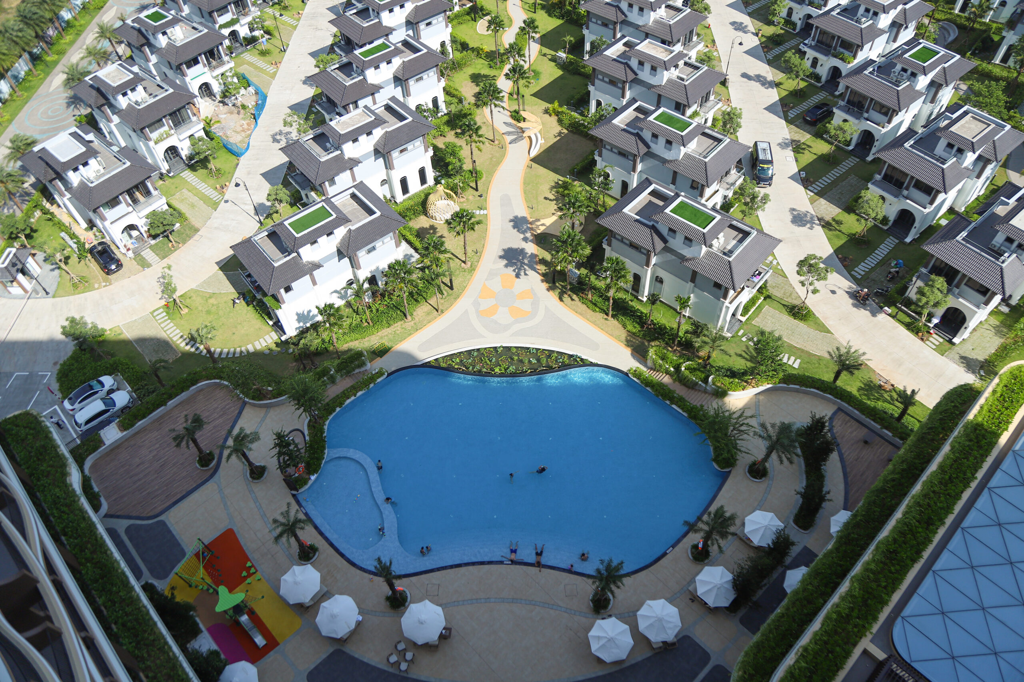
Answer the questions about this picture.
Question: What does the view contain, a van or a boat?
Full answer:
This aerial view contains a van.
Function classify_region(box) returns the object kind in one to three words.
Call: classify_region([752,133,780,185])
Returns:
van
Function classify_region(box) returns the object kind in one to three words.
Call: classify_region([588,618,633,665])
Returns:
umbrella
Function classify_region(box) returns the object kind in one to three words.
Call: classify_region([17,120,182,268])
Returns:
house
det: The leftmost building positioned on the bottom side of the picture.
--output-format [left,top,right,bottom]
[0,437,139,682]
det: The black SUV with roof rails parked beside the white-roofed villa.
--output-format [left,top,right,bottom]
[84,241,120,275]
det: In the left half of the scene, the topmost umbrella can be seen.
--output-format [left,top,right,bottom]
[277,565,320,606]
